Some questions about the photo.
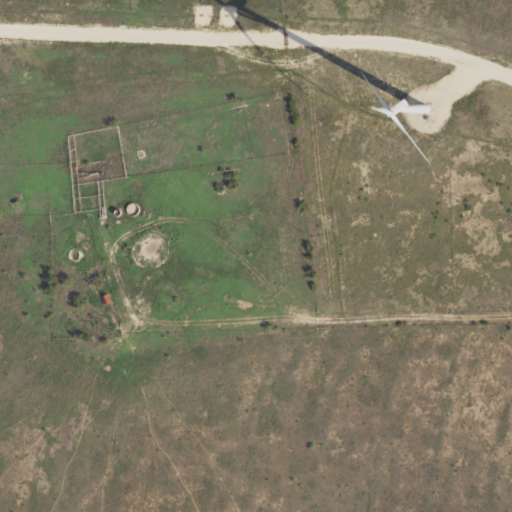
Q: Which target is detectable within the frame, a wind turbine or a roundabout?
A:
wind turbine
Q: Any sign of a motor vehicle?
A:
No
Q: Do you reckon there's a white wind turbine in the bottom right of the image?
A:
No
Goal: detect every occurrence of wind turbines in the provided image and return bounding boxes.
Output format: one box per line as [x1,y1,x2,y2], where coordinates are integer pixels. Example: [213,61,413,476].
[360,73,432,165]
